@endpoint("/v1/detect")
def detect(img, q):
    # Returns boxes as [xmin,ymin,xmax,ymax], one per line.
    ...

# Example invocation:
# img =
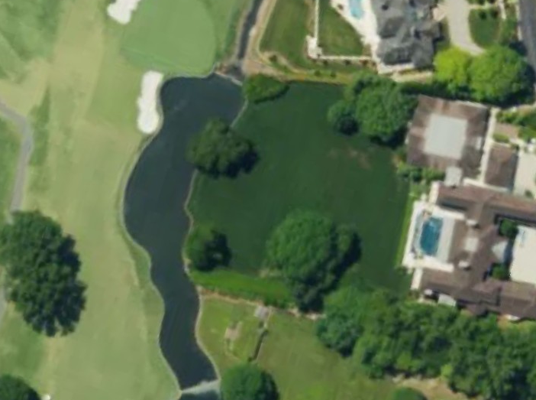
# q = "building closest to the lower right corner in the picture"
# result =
[419,185,536,316]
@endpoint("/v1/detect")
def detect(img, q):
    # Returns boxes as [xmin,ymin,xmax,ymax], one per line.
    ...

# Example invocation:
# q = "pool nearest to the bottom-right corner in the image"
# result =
[419,216,443,256]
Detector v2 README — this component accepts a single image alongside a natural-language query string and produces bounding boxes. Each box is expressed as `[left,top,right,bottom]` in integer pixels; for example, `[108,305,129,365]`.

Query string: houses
[419,185,536,316]
[407,96,488,186]
[371,0,442,70]
[485,143,520,190]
